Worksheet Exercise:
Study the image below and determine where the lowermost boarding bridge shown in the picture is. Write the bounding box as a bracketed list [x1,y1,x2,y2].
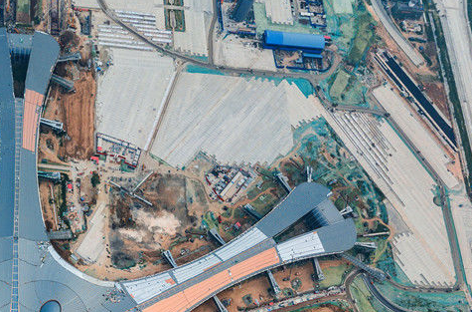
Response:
[213,291,230,312]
